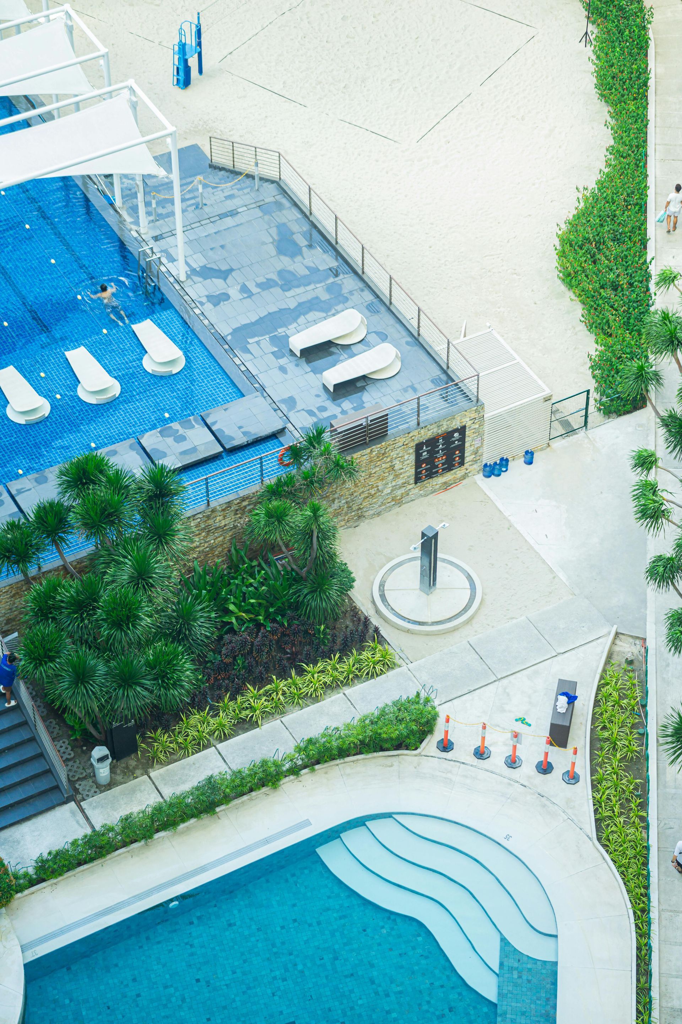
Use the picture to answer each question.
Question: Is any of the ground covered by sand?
Yes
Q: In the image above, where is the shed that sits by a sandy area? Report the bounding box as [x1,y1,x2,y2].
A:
[436,329,557,475]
